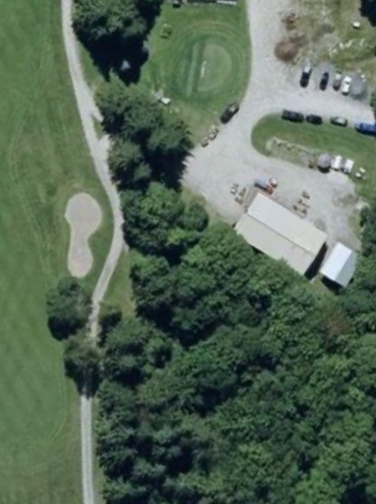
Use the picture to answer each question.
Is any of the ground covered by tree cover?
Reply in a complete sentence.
Yes, tree cover shows up in the scene.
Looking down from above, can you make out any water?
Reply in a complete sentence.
No, there's no water in this view.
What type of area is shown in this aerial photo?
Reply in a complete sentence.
This looks like a golf course.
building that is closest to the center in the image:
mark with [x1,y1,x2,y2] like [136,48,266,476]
[233,184,326,276]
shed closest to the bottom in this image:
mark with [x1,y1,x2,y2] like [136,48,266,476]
[322,243,360,285]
